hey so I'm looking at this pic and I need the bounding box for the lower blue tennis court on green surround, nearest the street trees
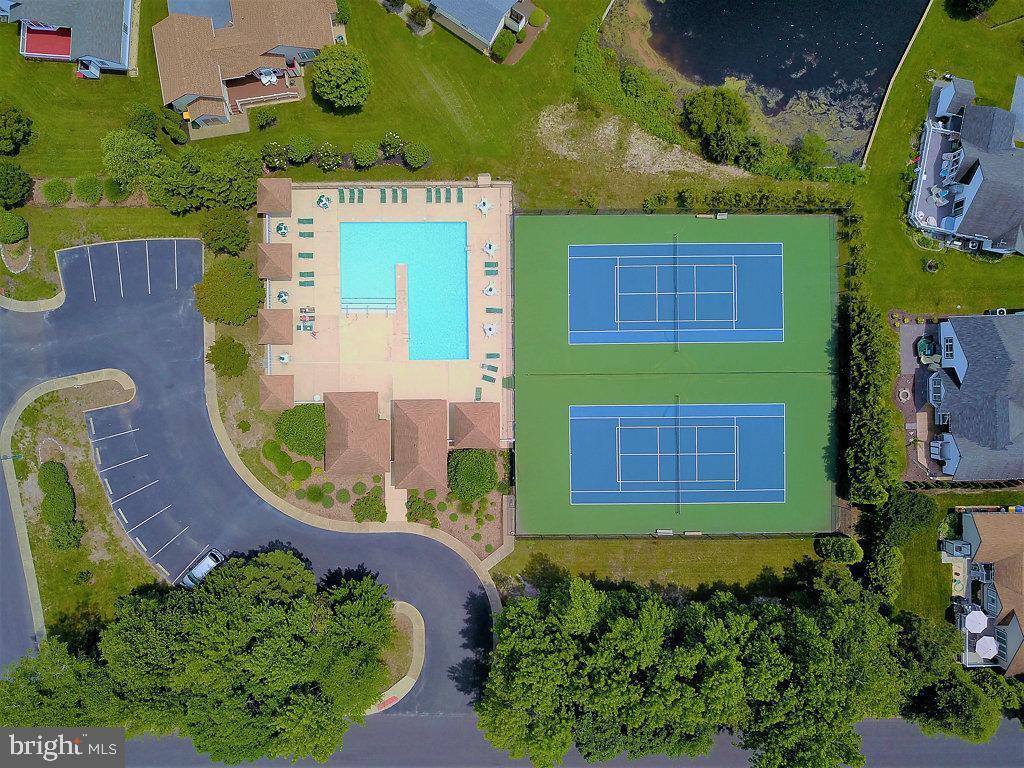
[516,374,838,535]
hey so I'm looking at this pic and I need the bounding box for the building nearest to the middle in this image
[455,402,501,447]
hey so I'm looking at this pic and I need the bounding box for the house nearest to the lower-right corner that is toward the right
[946,512,1024,672]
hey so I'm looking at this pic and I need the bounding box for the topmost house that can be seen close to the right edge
[908,79,1024,255]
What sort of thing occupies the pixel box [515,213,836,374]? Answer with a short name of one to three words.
tennis court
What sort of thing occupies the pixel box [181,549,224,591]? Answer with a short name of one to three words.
car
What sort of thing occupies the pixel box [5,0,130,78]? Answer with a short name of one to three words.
house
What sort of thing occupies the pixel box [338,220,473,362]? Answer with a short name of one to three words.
swimming pool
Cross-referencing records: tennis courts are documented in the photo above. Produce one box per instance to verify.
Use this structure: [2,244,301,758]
[515,213,836,374]
[516,374,838,535]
